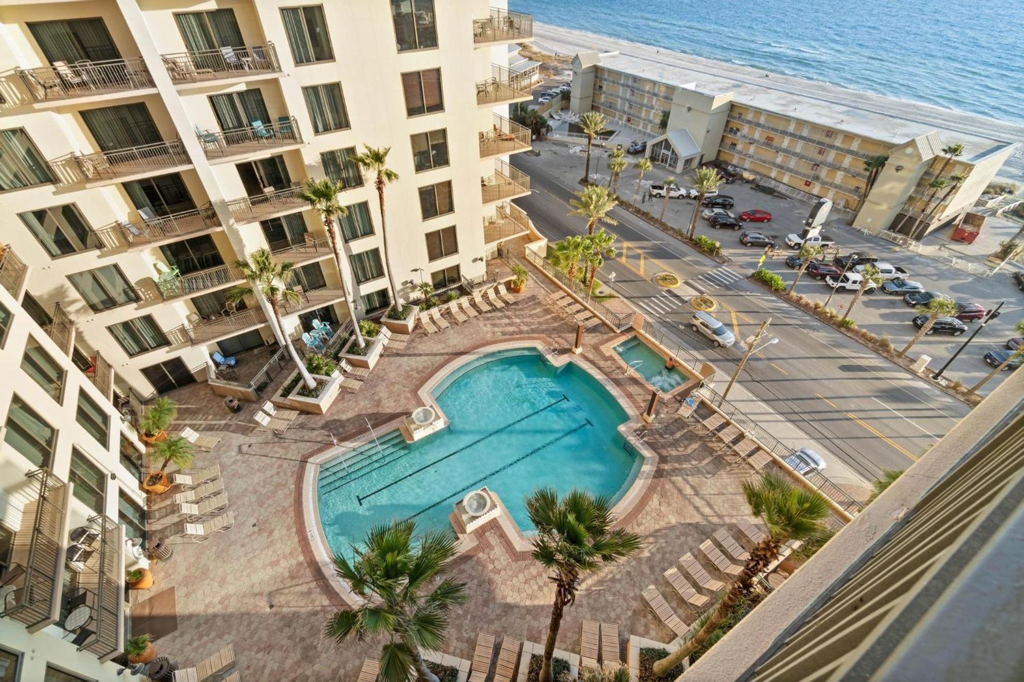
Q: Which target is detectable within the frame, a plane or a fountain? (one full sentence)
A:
I can see a fountain in this picture.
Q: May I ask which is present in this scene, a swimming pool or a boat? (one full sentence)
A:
Visible in the photo is a swimming pool.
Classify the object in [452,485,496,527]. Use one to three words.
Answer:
fountain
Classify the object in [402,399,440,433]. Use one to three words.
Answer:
fountain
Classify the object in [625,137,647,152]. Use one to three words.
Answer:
car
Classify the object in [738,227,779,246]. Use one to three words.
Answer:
car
